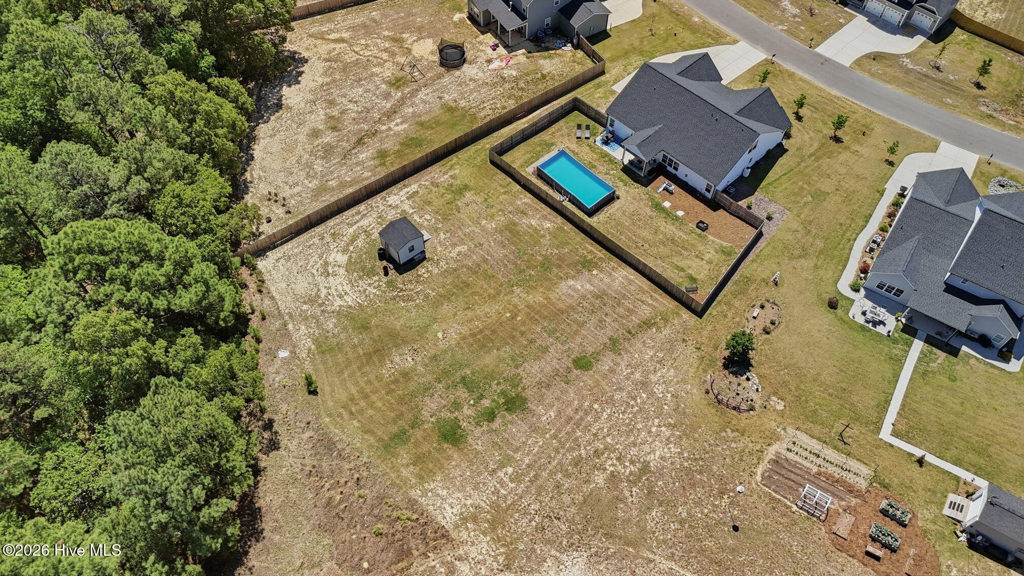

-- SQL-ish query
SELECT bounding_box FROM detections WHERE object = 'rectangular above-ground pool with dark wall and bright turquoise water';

[538,150,616,215]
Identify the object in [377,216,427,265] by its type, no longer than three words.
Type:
shed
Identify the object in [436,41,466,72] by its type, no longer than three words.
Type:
trampoline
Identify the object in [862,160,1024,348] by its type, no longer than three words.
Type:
house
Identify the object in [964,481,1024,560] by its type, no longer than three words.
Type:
shed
